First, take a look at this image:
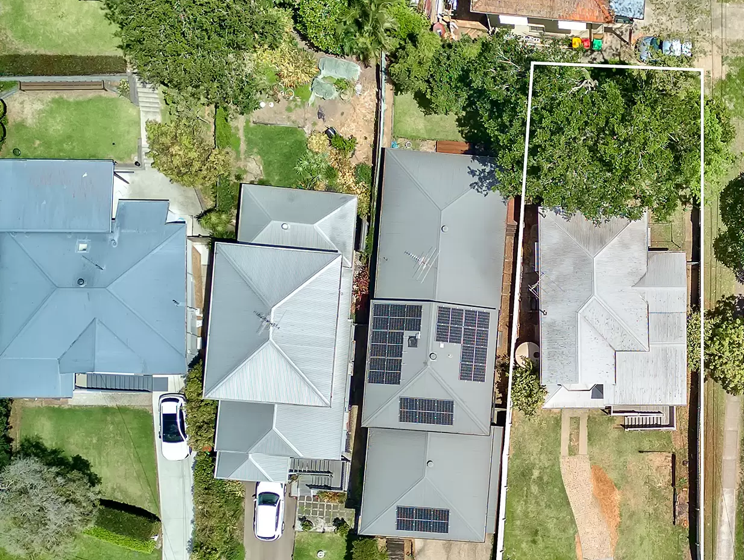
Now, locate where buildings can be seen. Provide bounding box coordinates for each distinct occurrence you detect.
[201,183,361,485]
[0,158,200,401]
[536,205,689,411]
[469,0,647,39]
[356,146,512,543]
